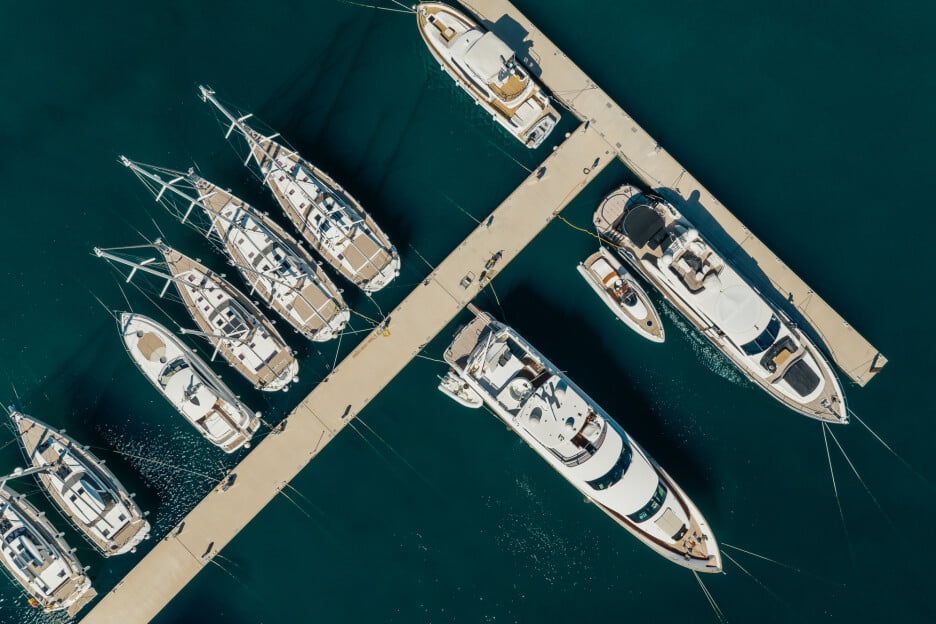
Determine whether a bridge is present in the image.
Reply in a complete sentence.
No, the picture doesn't show any bridge.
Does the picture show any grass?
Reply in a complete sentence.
No, there is no grass in the image.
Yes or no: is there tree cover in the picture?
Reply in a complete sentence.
No, no tree cover is visible.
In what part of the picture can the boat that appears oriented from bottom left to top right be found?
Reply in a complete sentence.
The boat that appears oriented from bottom left to top right is in the top part of the image.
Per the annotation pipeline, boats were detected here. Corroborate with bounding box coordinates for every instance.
[191,80,399,294]
[593,184,852,424]
[0,409,155,555]
[416,0,561,153]
[90,237,302,390]
[0,482,96,619]
[525,116,556,145]
[573,243,667,344]
[112,156,351,343]
[437,370,485,406]
[445,301,729,577]
[115,310,263,453]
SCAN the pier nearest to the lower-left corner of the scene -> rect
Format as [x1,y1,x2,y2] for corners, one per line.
[80,122,619,624]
